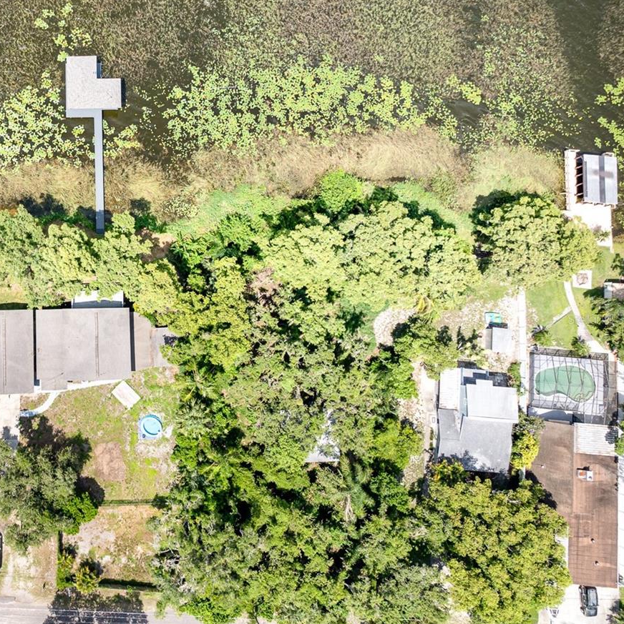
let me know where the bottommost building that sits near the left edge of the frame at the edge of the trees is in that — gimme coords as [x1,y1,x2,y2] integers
[0,290,180,394]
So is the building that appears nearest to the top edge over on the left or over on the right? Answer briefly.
left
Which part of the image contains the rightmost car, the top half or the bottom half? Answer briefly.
bottom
